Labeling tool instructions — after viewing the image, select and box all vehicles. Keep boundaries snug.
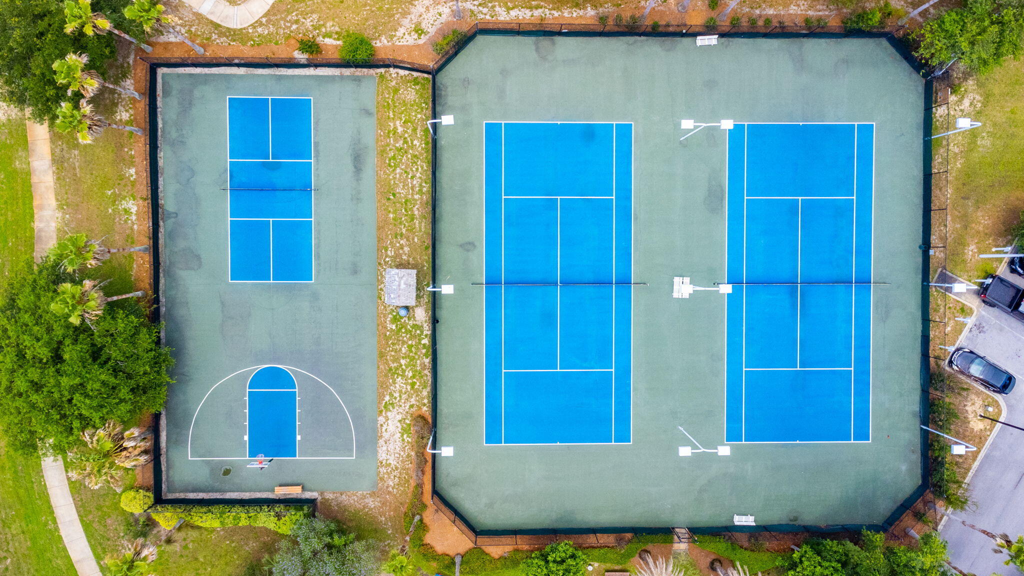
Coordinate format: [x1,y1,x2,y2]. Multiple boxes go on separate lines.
[948,347,1015,396]
[977,274,1024,322]
[1009,252,1024,280]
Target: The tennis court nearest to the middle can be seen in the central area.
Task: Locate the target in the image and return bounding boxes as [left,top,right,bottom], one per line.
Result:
[484,122,633,444]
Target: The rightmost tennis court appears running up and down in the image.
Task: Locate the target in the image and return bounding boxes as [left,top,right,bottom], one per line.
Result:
[725,123,875,443]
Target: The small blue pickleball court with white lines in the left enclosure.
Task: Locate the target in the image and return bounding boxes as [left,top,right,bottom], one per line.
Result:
[227,97,314,282]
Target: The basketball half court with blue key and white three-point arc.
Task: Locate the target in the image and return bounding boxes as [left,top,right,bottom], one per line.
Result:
[190,365,355,460]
